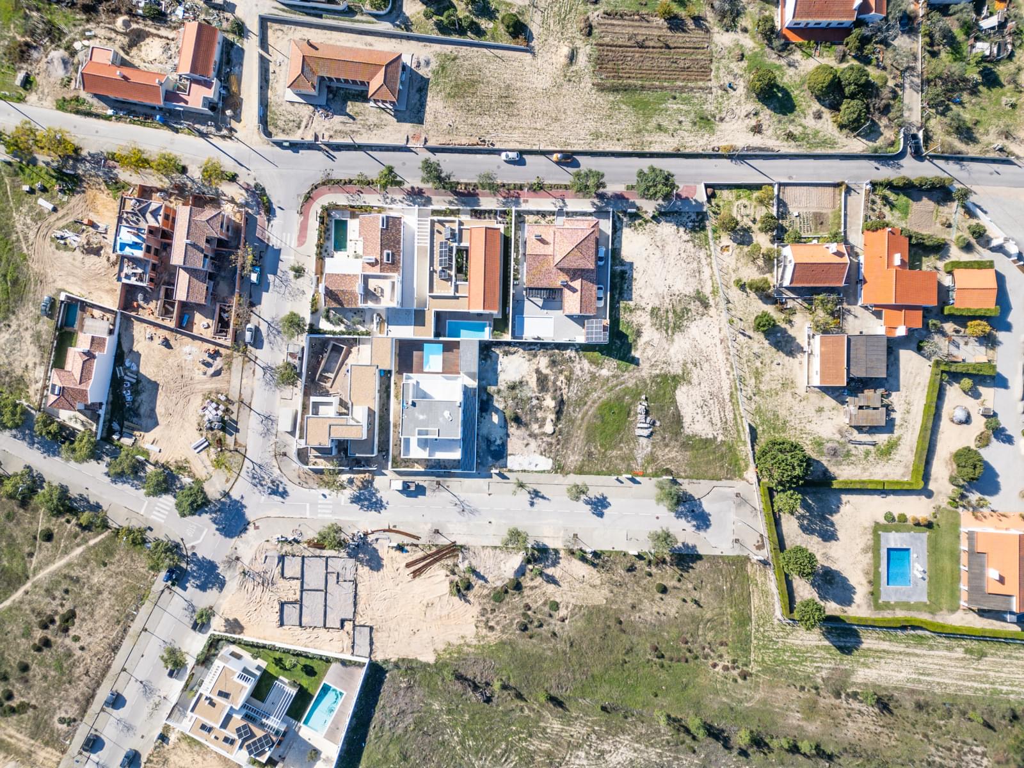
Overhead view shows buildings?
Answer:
Yes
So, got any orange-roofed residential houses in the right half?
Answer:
Yes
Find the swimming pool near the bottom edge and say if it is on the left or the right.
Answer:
left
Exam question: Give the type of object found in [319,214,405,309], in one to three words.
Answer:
house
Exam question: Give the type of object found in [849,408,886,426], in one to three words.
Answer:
shed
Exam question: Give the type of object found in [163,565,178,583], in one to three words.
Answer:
car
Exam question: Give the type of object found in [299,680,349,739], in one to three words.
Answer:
swimming pool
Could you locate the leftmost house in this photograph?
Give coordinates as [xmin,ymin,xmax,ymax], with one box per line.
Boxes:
[47,317,128,411]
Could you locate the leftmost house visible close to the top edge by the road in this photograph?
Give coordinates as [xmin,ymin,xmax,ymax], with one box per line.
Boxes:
[84,21,225,116]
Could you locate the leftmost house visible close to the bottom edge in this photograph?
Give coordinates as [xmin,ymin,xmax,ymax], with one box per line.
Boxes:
[174,642,300,763]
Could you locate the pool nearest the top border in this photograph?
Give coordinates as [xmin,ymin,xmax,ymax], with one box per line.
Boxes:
[331,218,350,254]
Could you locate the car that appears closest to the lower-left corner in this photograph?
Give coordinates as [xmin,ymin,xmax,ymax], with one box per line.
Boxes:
[81,733,96,753]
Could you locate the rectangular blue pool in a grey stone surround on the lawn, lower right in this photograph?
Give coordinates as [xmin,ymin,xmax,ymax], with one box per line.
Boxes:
[886,547,911,588]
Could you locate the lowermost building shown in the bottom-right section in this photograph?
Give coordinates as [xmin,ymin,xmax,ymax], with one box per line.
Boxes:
[953,526,1024,621]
